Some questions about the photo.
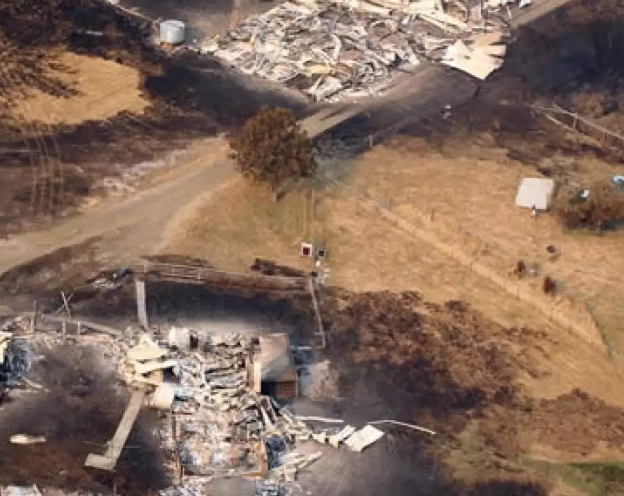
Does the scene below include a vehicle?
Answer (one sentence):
No, I can't see a single vehicle in this photo.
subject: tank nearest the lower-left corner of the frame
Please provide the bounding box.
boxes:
[153,383,173,412]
